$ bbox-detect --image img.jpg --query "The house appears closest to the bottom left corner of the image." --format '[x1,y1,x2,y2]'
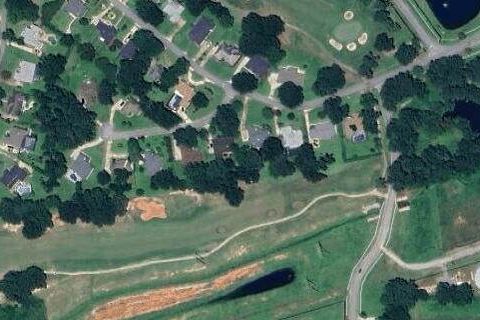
[1,162,29,190]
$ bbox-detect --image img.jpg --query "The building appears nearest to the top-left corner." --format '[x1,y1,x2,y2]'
[20,24,44,49]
